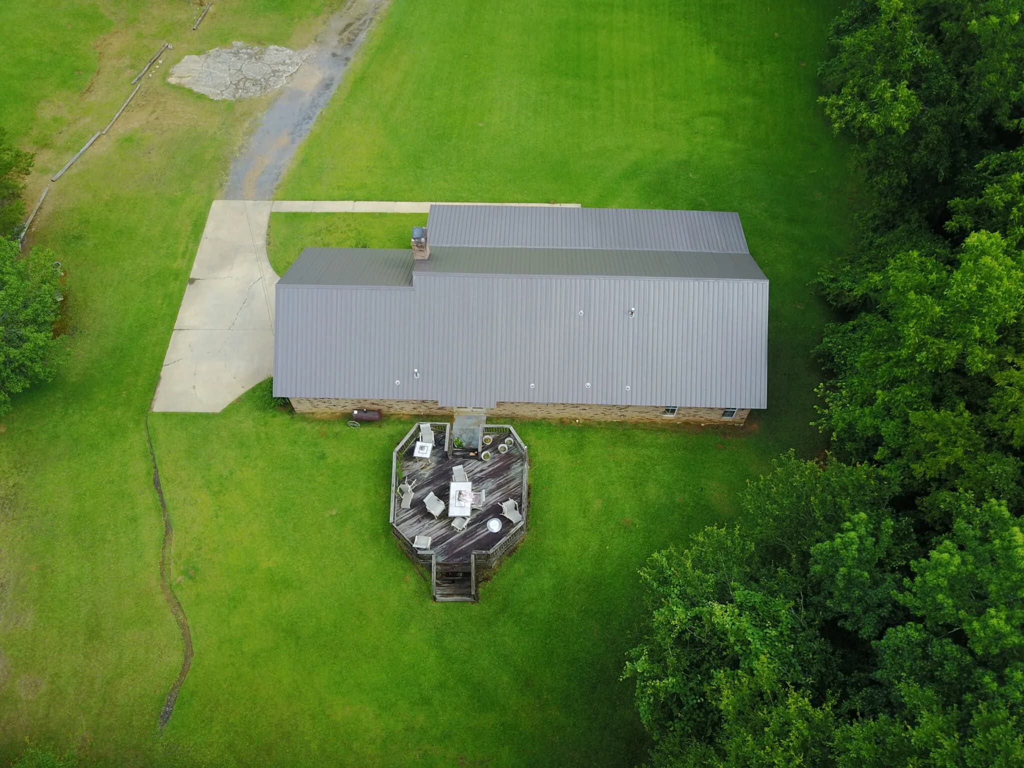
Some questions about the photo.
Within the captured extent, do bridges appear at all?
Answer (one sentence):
No, the frame has no bridge in it.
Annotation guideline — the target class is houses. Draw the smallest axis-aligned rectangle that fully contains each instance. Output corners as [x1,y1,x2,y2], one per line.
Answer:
[272,205,769,425]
